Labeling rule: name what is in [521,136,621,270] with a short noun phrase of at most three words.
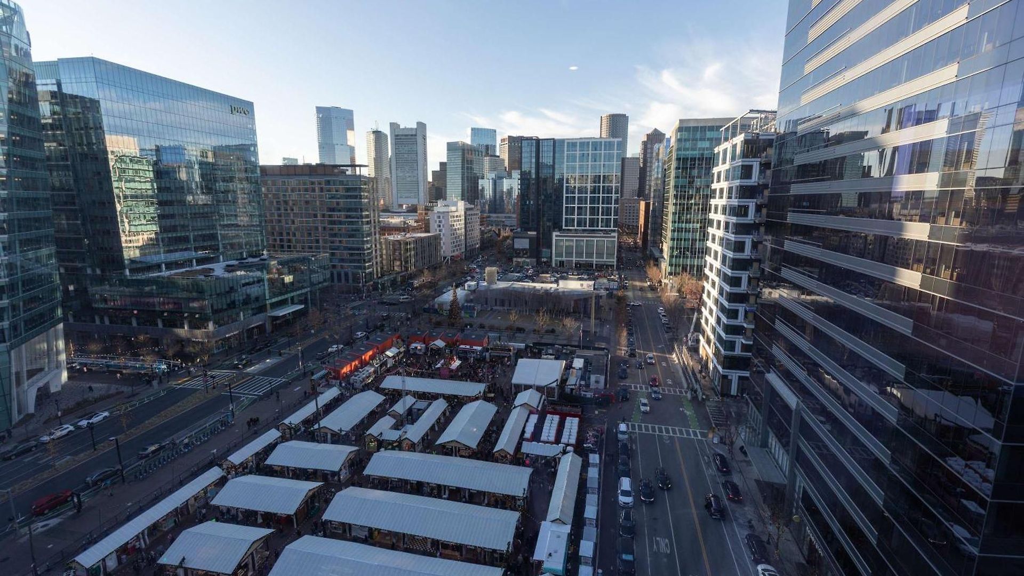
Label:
building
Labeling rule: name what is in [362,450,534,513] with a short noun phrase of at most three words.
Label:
shed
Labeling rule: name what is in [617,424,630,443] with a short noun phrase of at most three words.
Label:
vehicle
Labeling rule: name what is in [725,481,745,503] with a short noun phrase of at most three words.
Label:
car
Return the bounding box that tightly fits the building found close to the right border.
[743,0,1024,576]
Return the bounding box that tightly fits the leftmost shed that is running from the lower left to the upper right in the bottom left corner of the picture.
[69,464,228,576]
